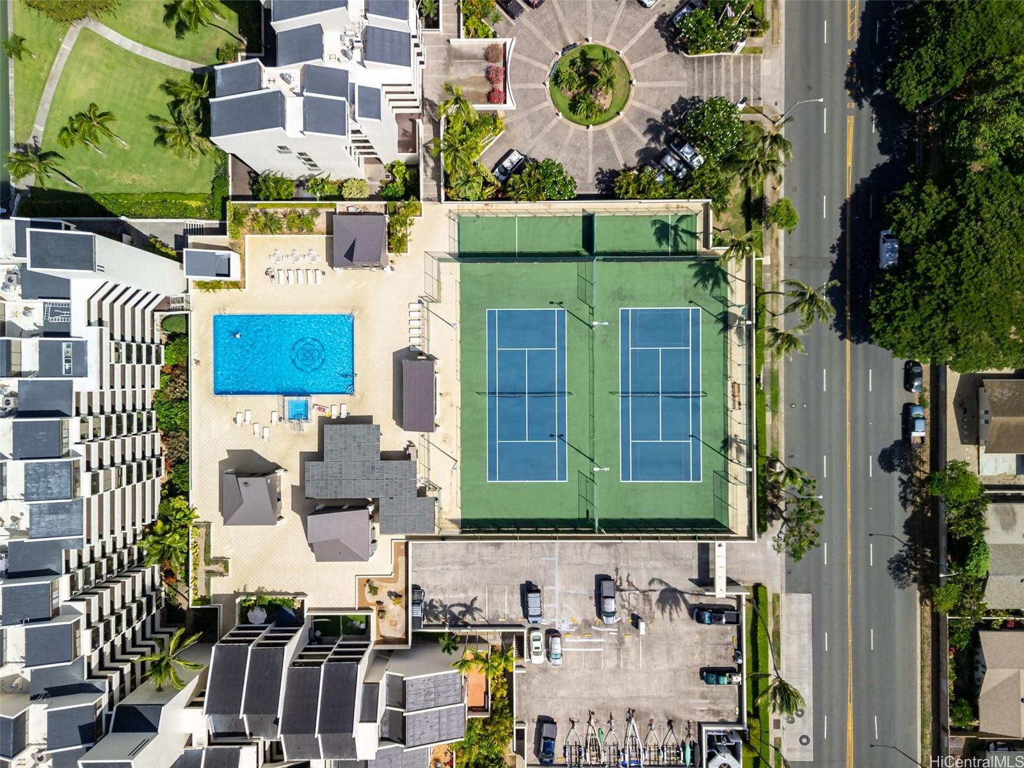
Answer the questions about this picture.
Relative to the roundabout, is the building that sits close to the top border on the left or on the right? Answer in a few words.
to the left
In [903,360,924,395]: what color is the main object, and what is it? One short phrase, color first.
black car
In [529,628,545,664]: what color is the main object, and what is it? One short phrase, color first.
white car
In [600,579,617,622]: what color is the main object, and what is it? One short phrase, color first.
gray vehicle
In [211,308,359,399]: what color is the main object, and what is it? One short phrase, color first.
blue swimming pool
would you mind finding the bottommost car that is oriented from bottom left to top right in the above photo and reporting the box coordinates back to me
[494,147,526,182]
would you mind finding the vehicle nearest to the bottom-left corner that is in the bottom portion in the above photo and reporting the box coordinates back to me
[412,585,427,627]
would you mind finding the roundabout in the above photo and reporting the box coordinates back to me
[546,39,636,129]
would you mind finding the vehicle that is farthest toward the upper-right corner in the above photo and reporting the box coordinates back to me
[878,231,899,270]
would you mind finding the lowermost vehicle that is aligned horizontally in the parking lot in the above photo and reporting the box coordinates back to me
[703,667,742,686]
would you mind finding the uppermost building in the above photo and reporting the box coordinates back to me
[208,0,427,172]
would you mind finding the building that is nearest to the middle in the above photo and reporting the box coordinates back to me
[402,360,440,431]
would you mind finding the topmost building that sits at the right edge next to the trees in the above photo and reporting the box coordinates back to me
[970,380,1024,475]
